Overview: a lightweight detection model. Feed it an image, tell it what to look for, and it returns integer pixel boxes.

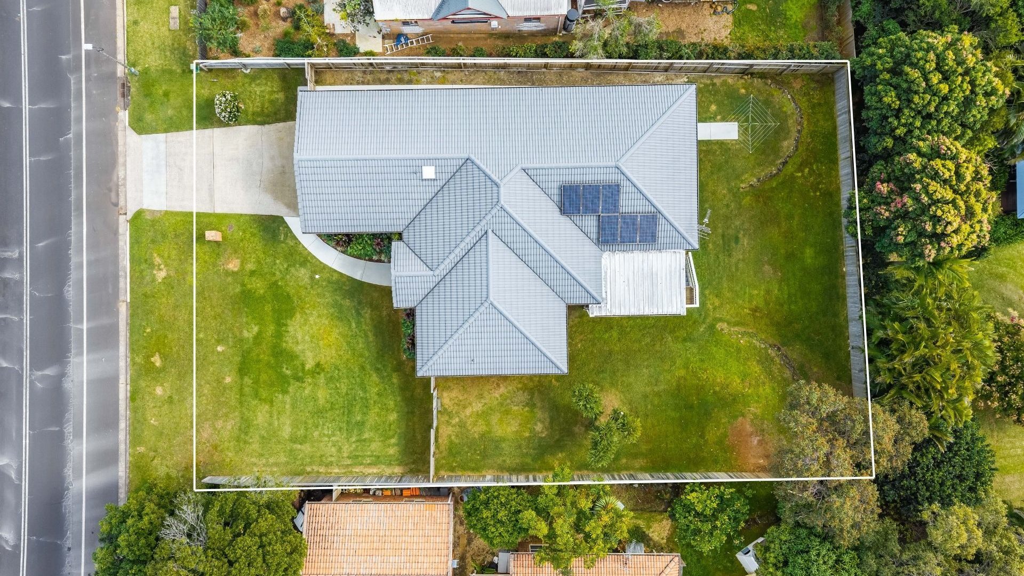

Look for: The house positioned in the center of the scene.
[289,81,701,379]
